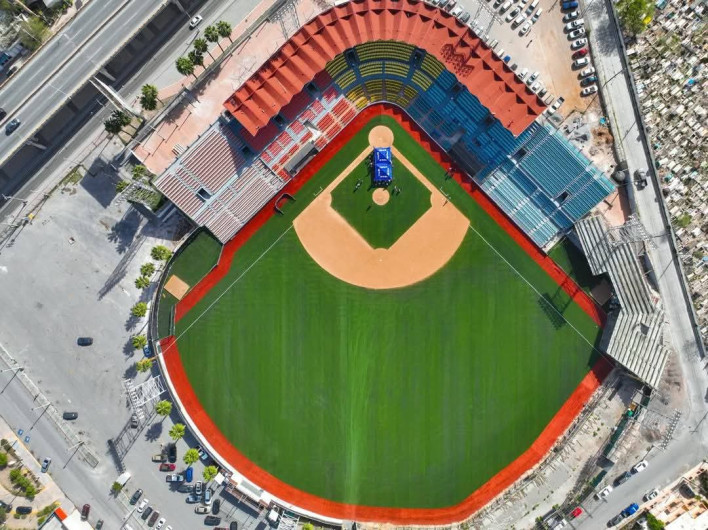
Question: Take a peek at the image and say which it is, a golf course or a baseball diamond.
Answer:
baseball diamond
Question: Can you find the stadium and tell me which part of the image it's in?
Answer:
top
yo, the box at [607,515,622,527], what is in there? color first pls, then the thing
gray vehicle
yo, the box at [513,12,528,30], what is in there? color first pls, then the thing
white vehicle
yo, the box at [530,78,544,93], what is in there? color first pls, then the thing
white vehicle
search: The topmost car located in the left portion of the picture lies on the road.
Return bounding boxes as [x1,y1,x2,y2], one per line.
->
[187,15,202,28]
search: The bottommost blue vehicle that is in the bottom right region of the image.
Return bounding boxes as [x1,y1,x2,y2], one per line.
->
[621,503,639,518]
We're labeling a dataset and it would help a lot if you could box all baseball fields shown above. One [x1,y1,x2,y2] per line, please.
[156,102,615,524]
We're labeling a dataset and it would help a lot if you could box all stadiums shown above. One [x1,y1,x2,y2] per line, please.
[152,0,624,252]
